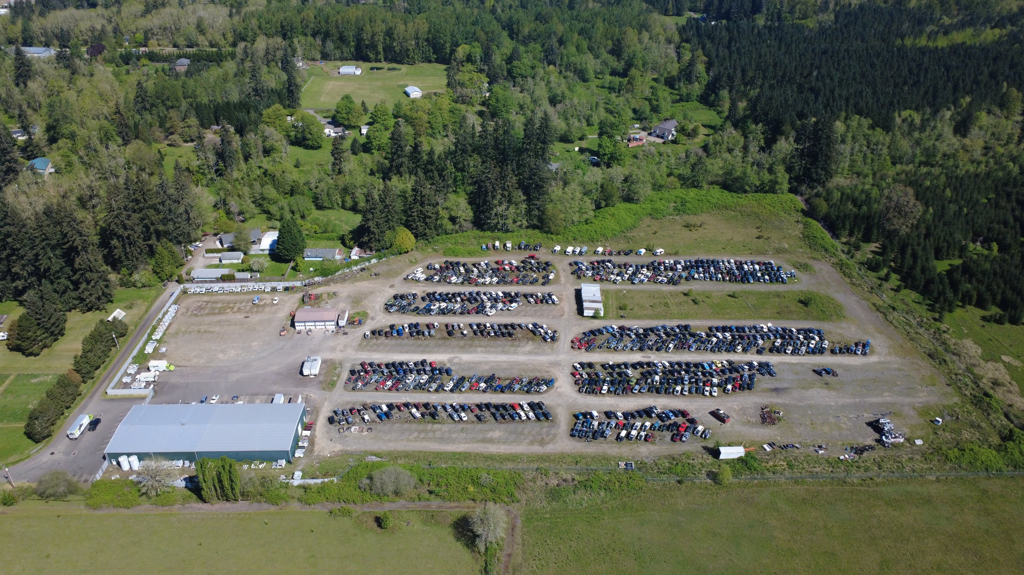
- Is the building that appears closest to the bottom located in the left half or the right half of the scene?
left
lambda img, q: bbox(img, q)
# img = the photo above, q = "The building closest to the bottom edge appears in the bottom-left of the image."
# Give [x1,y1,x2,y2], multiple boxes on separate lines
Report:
[104,403,308,466]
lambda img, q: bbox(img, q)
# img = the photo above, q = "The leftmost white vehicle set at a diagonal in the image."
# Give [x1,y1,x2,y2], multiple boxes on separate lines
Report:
[61,410,98,441]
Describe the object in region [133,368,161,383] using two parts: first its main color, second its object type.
white vehicle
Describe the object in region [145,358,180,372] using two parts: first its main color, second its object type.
white vehicle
